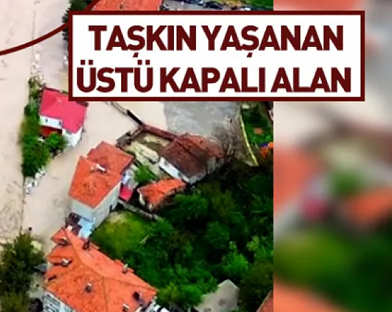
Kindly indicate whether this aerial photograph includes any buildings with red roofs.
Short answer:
Yes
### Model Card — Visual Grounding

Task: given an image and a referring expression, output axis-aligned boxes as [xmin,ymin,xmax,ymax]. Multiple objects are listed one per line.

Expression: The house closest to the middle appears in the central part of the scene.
[159,136,227,180]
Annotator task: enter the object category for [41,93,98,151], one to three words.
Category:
house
